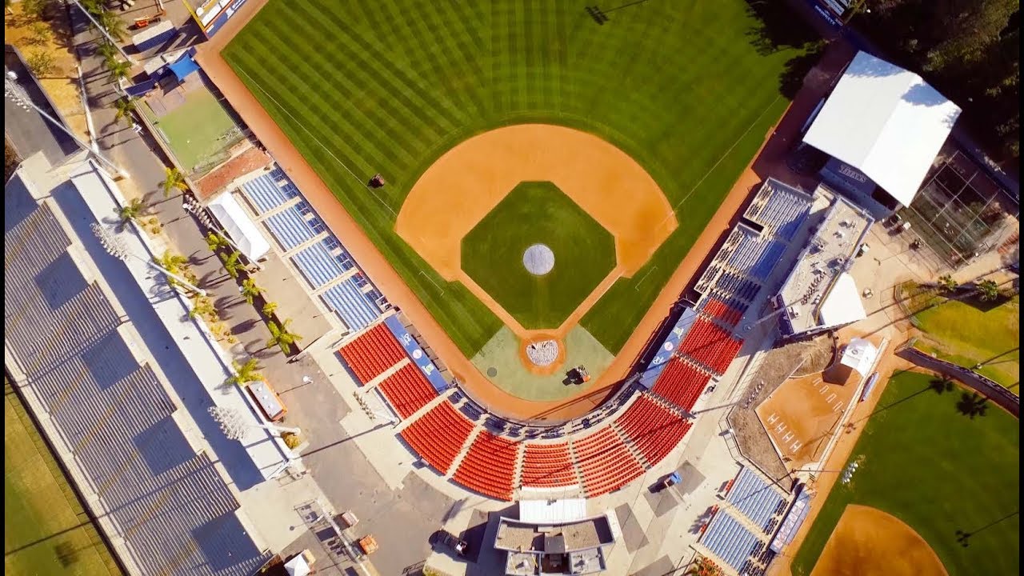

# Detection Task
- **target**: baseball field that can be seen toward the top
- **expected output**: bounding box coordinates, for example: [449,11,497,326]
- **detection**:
[199,0,839,426]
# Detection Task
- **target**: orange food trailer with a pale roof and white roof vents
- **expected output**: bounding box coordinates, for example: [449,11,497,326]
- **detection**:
[250,380,289,421]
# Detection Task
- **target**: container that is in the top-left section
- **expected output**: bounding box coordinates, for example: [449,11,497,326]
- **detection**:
[132,19,180,52]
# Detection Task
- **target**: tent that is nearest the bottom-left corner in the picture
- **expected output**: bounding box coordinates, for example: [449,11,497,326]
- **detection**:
[284,554,316,576]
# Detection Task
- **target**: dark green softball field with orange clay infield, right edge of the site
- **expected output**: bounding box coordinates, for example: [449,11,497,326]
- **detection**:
[771,340,1024,576]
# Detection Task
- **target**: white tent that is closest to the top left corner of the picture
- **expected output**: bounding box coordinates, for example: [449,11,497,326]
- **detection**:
[208,191,275,261]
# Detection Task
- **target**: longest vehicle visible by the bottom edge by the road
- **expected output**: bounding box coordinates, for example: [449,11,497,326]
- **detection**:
[430,530,469,558]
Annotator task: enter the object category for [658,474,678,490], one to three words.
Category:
work vehicle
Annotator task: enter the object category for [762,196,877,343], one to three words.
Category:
building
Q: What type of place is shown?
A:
sports ground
